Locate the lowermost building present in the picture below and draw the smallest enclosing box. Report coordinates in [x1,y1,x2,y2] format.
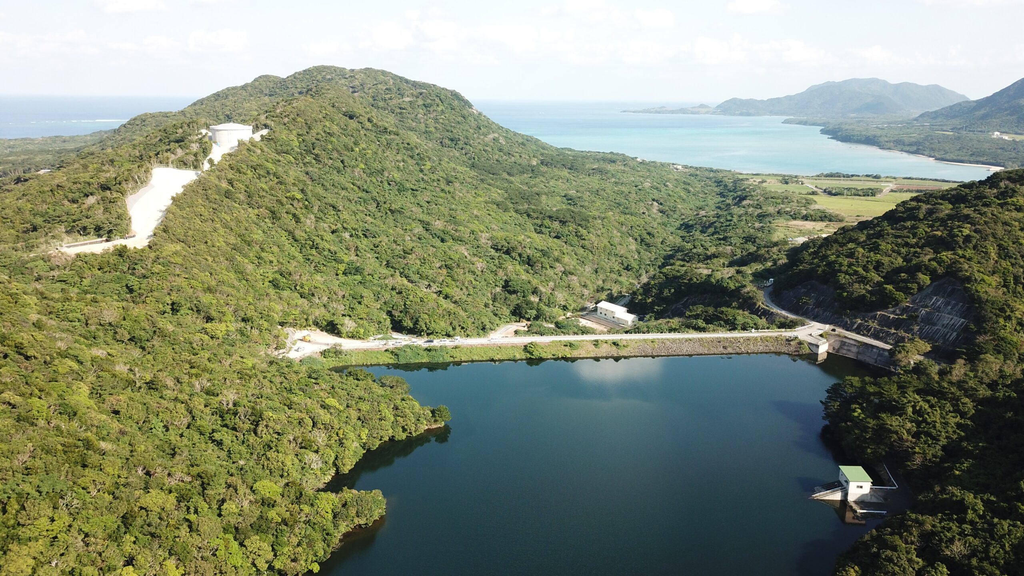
[807,467,880,503]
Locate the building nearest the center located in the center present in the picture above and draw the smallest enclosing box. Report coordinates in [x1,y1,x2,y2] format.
[597,300,641,325]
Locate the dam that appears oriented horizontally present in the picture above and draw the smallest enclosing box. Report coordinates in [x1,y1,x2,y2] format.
[300,329,806,366]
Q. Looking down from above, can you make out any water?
Yes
